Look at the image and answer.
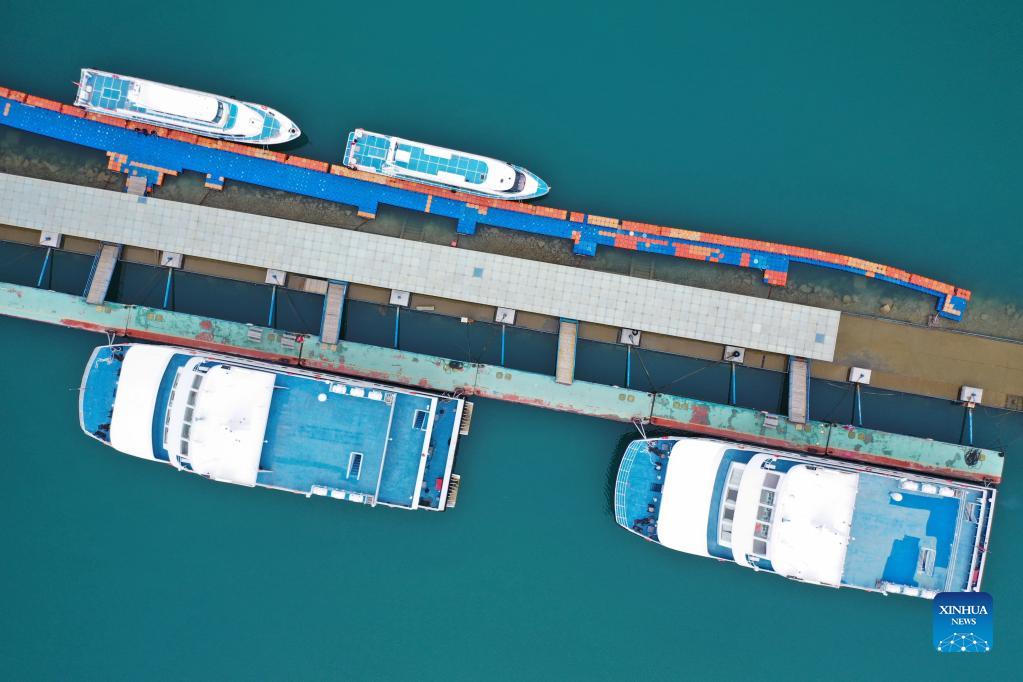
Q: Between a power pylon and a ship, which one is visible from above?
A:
ship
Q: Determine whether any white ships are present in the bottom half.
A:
Yes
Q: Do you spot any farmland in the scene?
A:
No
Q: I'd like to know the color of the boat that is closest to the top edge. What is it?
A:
white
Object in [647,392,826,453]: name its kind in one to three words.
ship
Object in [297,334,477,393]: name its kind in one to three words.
ship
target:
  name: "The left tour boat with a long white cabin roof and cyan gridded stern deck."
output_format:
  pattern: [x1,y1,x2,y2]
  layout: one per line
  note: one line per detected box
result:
[70,69,302,143]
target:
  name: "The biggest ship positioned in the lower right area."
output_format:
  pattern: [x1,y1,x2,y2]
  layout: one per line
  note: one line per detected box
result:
[612,435,996,604]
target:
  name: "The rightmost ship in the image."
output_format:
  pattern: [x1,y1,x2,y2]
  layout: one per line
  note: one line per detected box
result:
[823,421,1001,482]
